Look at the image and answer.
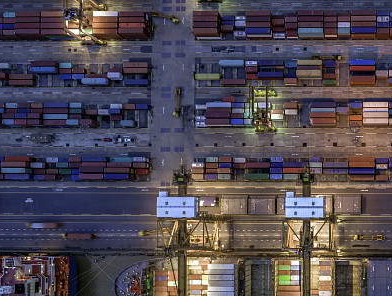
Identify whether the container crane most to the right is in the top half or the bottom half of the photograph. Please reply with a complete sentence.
It is in the bottom half that the container crane most to the right appears.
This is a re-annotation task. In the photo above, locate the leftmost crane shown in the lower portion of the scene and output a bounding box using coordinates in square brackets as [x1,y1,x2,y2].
[155,164,226,296]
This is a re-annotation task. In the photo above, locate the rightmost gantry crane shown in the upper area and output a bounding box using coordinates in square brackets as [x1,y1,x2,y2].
[248,79,279,131]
